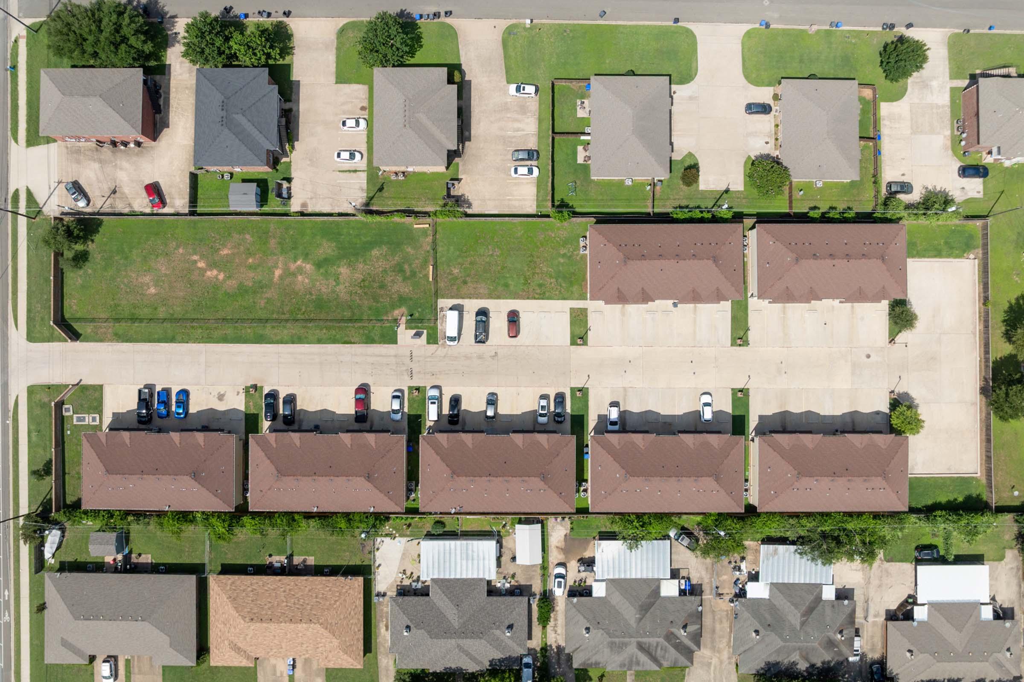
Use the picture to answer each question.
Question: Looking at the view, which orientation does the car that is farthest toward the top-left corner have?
at an angle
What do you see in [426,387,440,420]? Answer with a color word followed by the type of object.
white vehicle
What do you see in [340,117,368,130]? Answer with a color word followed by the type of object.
white vehicle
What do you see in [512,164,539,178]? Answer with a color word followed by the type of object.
white car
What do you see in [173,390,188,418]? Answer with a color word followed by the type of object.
blue car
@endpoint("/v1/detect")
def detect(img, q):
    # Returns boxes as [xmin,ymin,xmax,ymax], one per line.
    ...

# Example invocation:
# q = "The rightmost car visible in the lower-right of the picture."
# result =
[913,545,940,559]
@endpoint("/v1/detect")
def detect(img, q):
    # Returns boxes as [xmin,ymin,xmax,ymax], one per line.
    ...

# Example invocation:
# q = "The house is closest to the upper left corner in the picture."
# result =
[40,67,167,142]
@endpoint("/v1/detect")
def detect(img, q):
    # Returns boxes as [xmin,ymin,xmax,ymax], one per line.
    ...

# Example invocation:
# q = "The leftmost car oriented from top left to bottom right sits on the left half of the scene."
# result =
[66,180,90,207]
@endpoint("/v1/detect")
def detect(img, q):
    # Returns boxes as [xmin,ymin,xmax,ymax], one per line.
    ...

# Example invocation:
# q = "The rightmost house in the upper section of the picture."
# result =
[951,70,1024,169]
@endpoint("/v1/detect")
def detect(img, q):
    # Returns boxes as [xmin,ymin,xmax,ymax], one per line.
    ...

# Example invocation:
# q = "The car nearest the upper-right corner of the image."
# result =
[956,164,987,178]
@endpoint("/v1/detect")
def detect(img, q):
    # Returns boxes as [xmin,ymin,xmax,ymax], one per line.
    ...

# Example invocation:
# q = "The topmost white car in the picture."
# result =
[510,82,537,97]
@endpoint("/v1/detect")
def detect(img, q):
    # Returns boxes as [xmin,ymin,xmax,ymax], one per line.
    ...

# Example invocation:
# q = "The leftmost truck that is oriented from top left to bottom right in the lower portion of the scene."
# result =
[668,524,695,554]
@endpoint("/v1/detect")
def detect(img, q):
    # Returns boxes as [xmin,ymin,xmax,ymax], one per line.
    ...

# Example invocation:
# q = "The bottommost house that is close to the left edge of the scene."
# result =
[44,570,201,666]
